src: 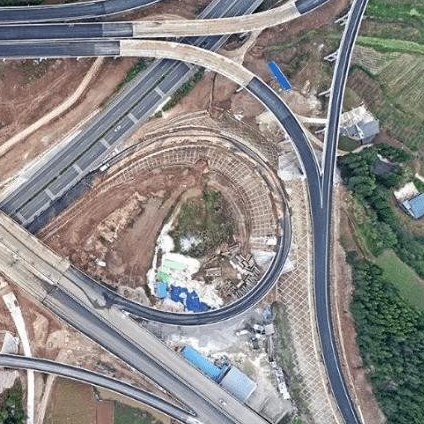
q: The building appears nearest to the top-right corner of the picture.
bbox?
[345,118,378,143]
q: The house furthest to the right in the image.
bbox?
[401,193,424,218]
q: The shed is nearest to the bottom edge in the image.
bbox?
[218,367,256,400]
